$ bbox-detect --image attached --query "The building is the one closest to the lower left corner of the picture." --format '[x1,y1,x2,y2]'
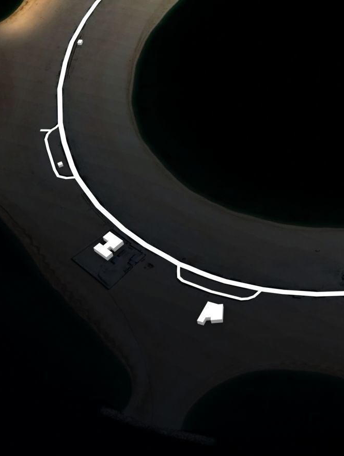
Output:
[94,232,124,260]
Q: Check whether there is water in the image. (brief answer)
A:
Yes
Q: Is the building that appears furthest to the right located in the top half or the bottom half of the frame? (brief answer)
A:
bottom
